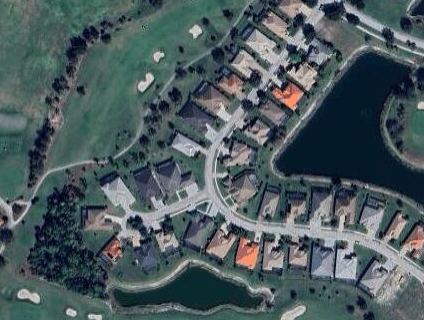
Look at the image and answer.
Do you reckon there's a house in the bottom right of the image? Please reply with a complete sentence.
Yes, a house can be seen in the bottom right of the image.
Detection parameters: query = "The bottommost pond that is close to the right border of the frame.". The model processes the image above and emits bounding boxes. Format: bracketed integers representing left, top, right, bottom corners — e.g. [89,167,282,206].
[274,49,424,208]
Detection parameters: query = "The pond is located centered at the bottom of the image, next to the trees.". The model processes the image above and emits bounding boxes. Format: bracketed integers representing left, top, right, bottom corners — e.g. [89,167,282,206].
[111,263,265,311]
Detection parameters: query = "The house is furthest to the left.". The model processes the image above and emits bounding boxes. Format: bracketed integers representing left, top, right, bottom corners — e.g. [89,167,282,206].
[79,207,109,229]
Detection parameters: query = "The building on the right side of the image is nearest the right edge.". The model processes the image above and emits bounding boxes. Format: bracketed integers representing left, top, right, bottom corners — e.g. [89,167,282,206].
[401,222,424,253]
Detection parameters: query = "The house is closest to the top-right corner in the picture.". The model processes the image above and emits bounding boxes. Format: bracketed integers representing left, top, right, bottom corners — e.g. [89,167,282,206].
[308,41,331,66]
